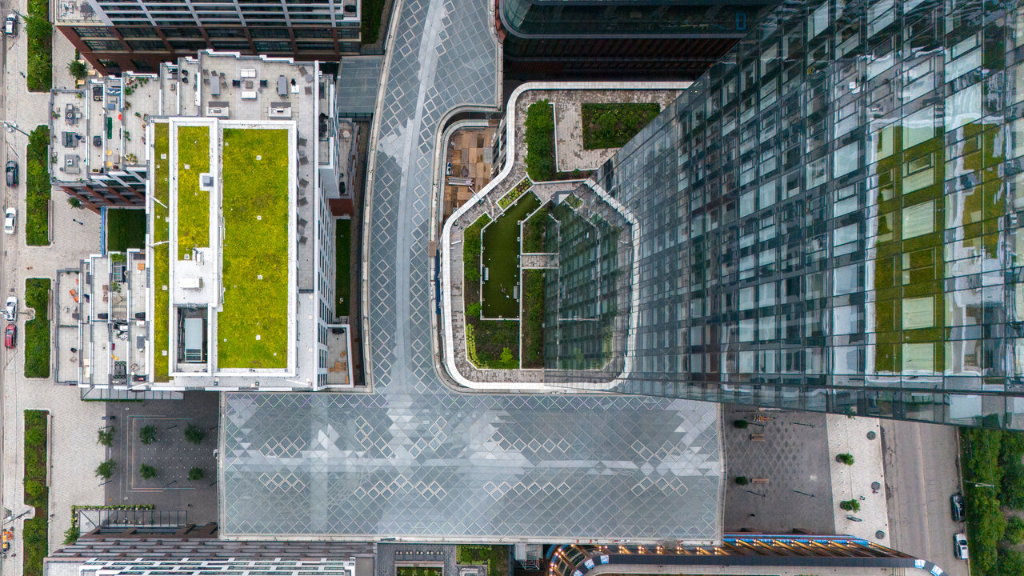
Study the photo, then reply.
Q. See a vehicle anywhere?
Yes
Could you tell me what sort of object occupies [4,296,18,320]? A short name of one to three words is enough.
car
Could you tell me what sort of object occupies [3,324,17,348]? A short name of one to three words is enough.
car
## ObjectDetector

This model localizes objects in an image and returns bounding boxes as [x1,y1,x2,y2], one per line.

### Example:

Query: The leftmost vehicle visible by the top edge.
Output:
[3,11,17,38]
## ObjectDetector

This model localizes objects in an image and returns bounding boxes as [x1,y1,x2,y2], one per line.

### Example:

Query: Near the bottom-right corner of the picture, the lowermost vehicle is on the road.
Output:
[951,532,968,560]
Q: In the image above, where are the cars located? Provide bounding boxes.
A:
[948,493,965,522]
[3,324,17,348]
[951,532,968,560]
[4,160,19,187]
[3,208,17,235]
[3,11,17,38]
[4,296,18,320]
